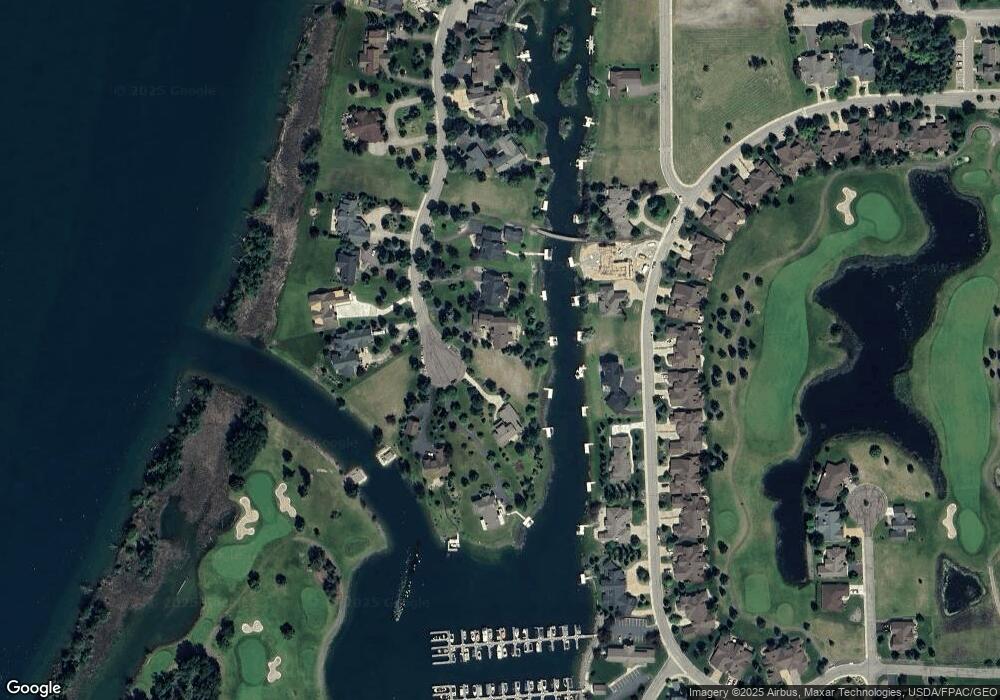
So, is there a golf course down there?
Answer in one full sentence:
Yes, a golf course is visible in the scene.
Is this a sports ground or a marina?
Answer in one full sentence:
It's a marina.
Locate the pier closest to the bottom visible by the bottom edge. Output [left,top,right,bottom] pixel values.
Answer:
[433,678,588,700]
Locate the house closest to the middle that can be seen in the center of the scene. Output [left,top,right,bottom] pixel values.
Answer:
[471,313,521,348]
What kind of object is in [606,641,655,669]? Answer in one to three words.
building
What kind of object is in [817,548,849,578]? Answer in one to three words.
house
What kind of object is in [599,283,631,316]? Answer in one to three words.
house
